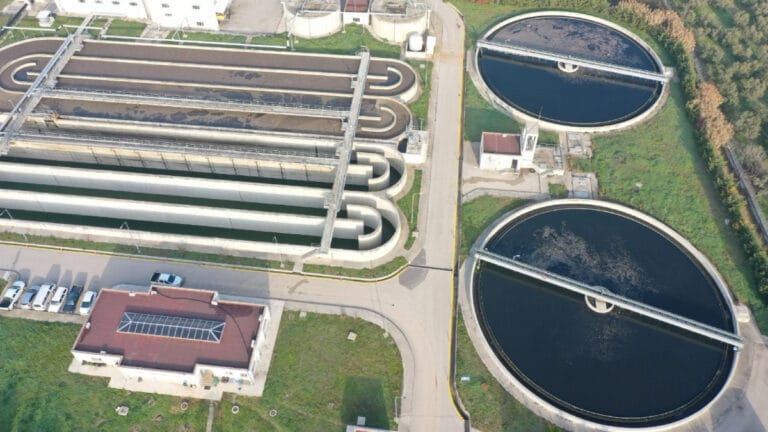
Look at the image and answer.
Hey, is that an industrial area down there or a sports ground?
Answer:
industrial area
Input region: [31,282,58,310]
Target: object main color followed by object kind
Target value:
white vehicle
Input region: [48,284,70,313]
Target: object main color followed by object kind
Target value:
white car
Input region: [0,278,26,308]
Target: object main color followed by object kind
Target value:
white truck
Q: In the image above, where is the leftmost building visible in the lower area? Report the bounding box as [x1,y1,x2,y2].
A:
[70,286,270,386]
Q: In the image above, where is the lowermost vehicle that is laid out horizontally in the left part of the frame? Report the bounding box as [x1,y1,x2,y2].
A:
[149,272,184,287]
